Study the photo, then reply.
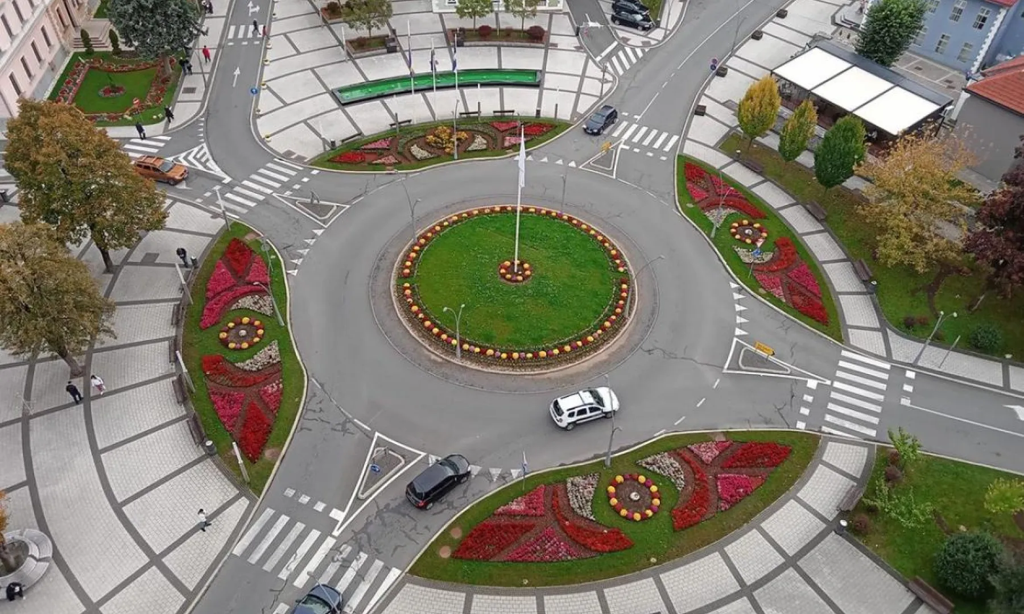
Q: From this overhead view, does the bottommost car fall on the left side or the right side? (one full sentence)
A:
You can find the bottommost car on the left side of the picture.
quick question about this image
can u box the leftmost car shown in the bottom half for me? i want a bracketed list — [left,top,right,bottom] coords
[295,584,343,614]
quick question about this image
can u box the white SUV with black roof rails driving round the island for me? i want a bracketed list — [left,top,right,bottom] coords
[552,387,621,430]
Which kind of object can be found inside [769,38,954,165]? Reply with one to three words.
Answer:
building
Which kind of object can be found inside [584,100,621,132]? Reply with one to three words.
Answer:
car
